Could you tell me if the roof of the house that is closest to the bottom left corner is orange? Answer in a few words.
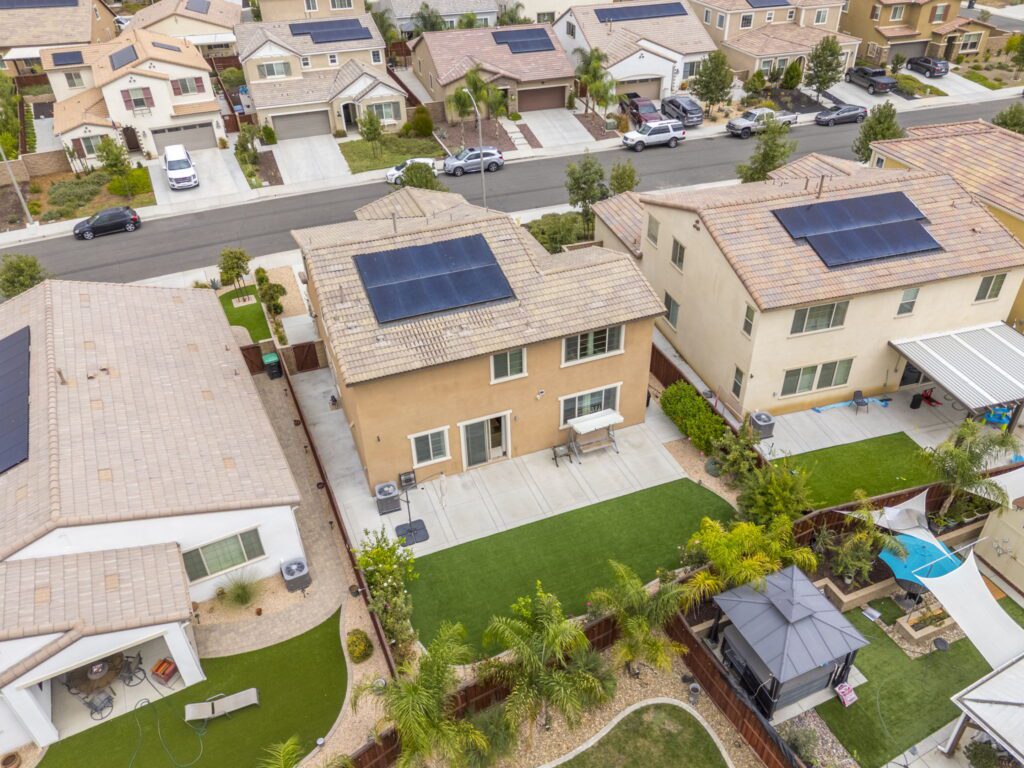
No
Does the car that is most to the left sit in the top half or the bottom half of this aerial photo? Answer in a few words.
top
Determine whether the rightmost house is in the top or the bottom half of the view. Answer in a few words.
bottom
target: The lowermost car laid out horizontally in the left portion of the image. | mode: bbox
[77,206,143,240]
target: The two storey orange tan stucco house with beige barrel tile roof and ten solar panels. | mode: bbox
[289,188,671,496]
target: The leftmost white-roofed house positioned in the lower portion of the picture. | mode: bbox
[0,280,312,749]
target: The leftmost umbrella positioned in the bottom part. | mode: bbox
[390,474,448,550]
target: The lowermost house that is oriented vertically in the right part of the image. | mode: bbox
[980,493,1024,602]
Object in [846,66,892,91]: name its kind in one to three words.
truck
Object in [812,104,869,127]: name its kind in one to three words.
car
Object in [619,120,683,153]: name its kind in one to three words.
car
